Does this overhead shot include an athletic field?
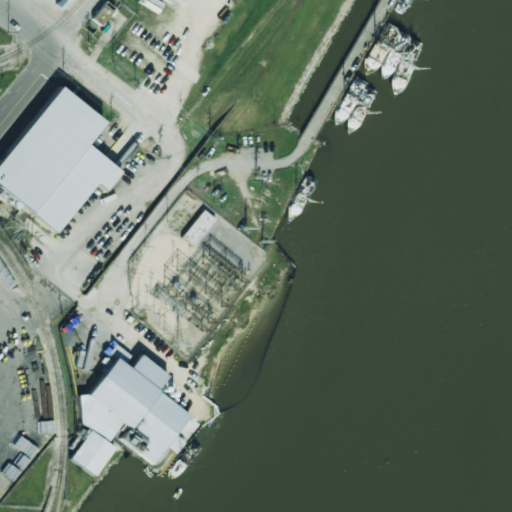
No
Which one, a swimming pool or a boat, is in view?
boat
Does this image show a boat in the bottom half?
Yes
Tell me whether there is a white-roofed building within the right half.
No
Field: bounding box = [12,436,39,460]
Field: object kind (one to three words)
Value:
shed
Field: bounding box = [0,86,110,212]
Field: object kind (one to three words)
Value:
building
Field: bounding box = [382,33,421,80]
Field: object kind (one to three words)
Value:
boat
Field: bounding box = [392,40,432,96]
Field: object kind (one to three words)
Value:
boat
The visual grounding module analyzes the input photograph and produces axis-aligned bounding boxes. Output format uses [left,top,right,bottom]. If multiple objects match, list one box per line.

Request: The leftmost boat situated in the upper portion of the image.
[286,174,324,224]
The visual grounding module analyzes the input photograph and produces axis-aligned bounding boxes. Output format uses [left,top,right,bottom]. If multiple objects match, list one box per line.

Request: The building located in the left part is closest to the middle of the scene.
[182,209,216,246]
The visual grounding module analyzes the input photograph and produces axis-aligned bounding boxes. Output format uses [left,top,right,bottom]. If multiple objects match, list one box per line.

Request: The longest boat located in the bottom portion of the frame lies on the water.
[168,442,206,480]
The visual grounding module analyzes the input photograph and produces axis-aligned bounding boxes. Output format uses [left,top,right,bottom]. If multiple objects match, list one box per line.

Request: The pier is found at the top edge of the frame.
[301,0,398,153]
